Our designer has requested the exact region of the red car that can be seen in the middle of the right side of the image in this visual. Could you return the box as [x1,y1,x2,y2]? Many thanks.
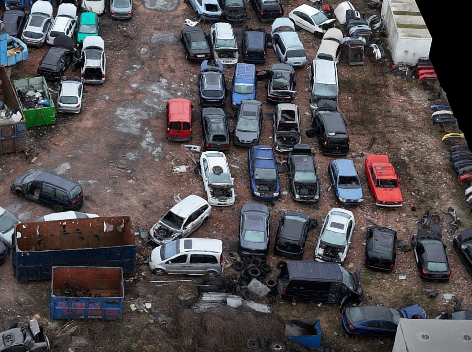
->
[361,156,399,214]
